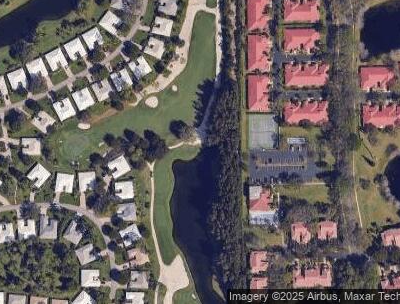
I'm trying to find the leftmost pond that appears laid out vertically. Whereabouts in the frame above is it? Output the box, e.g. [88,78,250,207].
[170,145,224,304]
